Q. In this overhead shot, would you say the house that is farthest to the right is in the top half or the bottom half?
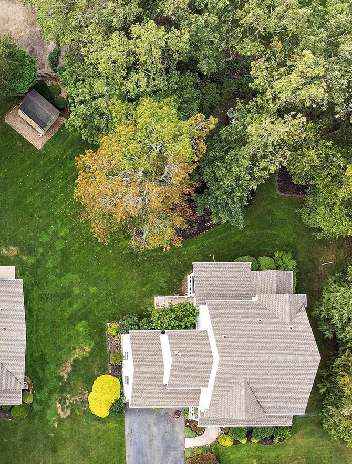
bottom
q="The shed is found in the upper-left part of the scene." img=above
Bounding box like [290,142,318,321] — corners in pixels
[19,90,63,133]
